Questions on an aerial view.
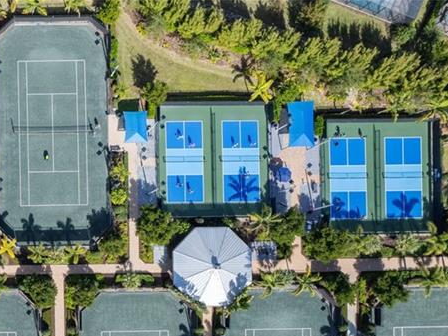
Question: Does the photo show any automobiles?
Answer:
No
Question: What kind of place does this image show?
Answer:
sports ground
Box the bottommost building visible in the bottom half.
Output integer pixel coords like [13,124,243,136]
[170,227,253,306]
